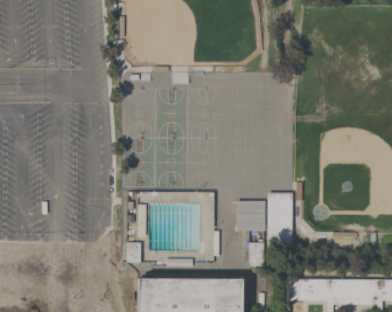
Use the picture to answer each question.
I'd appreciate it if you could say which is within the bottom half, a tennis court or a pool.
pool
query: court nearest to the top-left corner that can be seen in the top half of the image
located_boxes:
[124,90,155,138]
